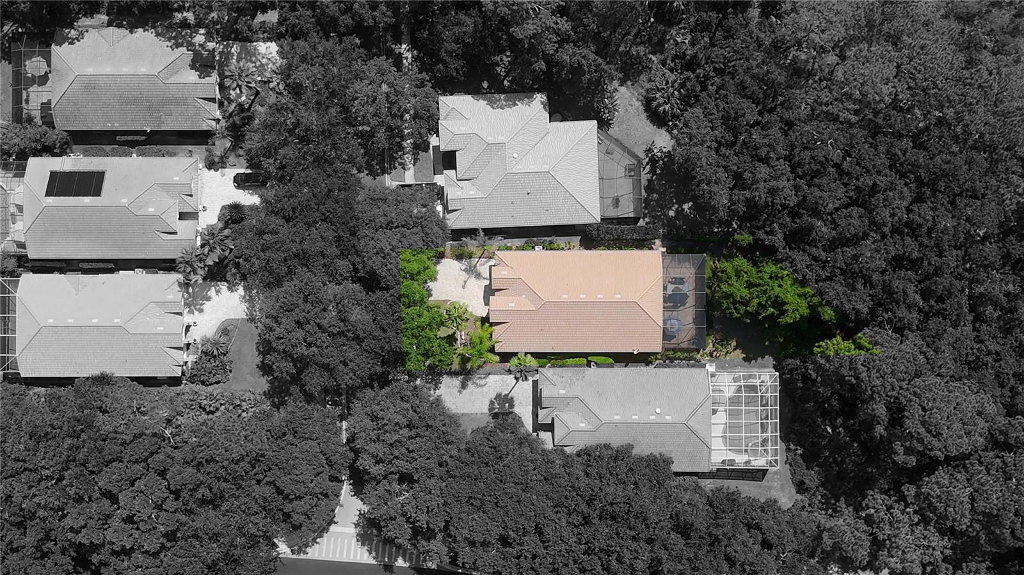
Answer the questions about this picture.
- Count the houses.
six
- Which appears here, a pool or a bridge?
pool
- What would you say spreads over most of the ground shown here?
trees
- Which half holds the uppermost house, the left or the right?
left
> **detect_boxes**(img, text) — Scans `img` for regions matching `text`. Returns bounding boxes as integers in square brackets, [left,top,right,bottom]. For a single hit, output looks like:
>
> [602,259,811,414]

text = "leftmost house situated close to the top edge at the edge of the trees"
[47,25,227,131]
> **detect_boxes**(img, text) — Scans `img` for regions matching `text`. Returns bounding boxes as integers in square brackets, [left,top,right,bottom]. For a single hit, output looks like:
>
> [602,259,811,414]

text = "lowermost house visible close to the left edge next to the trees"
[11,273,194,377]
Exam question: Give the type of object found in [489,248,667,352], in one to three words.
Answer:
house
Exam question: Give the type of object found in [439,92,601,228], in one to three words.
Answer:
house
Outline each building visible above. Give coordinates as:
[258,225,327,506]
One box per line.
[538,362,716,473]
[439,92,601,228]
[11,273,194,377]
[47,25,227,131]
[20,157,205,260]
[489,248,667,352]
